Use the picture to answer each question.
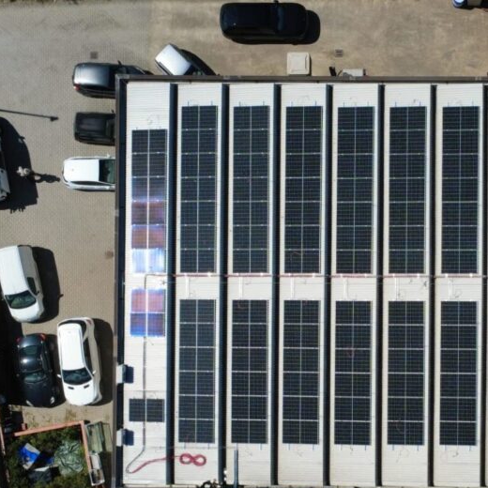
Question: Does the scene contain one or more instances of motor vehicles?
Yes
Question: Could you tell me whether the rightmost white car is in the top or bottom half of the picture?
top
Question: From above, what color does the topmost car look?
black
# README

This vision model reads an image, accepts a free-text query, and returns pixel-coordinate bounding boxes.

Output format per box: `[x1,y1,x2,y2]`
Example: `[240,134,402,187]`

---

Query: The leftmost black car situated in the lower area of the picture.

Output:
[16,331,58,409]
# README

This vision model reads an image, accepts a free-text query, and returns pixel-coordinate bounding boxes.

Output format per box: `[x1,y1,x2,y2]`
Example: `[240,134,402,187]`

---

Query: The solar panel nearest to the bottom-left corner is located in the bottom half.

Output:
[130,396,165,420]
